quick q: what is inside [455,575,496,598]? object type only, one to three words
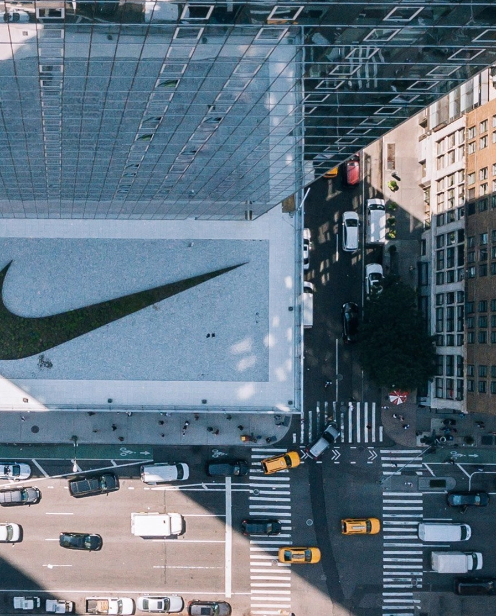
car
